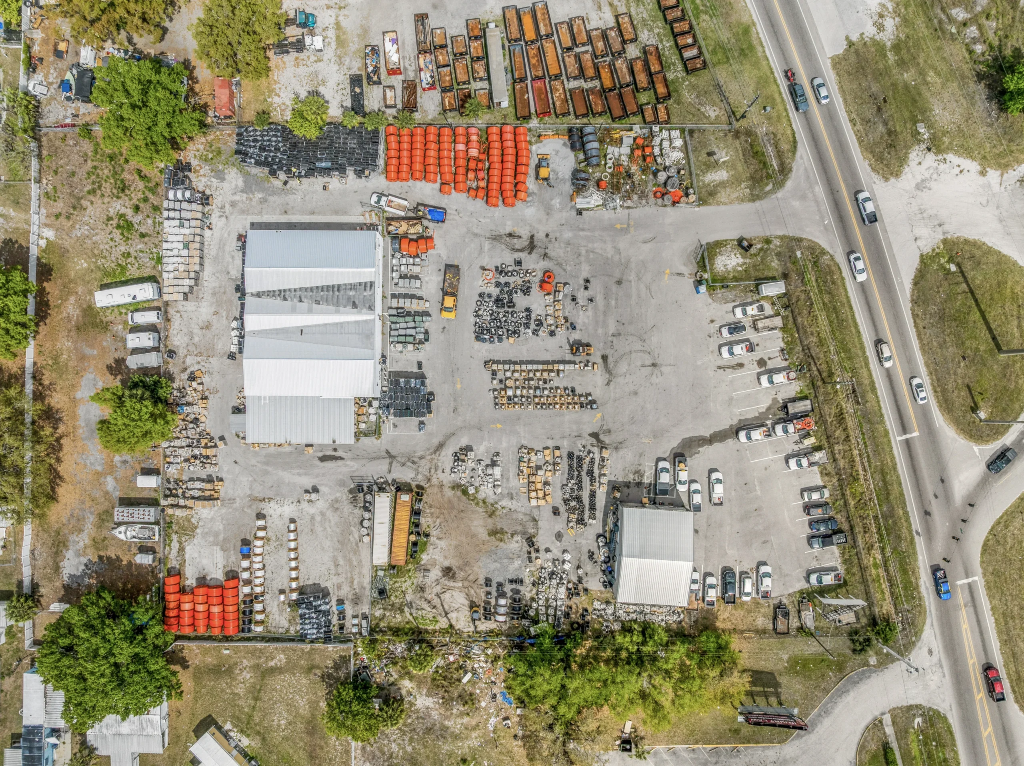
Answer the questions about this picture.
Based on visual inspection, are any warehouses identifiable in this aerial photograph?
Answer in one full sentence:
Yes, a warehouse can be made out from above.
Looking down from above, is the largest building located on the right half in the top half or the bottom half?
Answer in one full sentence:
It is in the bottom half that the largest building located on the right half appears.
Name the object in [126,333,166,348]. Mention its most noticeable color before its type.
white camper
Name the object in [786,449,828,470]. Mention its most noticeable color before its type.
white truck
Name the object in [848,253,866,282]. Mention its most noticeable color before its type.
white car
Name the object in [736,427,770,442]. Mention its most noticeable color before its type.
white vehicle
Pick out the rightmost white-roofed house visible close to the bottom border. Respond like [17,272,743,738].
[189,720,262,766]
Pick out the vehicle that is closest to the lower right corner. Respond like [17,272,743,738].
[982,666,1005,703]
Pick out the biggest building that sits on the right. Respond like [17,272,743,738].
[612,502,693,608]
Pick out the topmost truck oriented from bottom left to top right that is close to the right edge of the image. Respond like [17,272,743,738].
[983,445,1019,475]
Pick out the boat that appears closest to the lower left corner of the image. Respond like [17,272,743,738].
[111,524,164,541]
